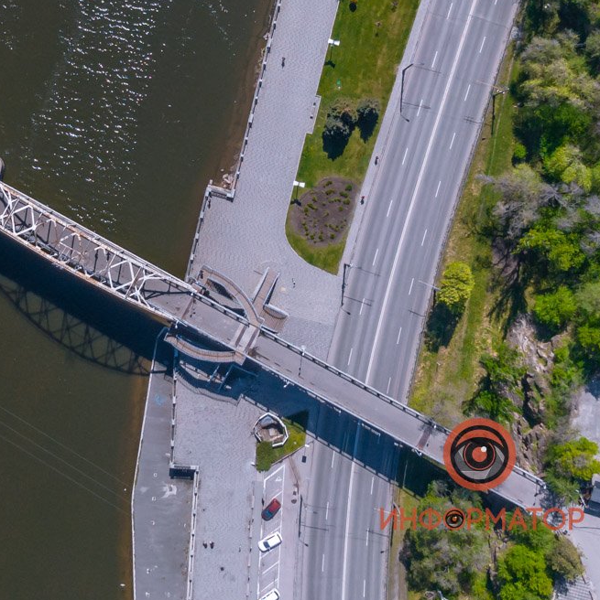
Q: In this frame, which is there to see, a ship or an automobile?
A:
automobile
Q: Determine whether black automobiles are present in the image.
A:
No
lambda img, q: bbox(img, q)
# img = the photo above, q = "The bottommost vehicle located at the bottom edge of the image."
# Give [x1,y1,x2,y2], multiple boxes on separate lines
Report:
[254,587,280,600]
